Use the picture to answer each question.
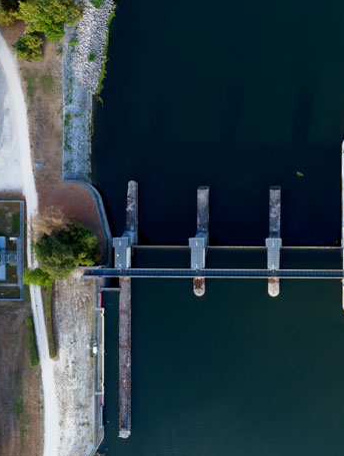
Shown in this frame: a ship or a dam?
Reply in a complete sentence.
There is a dam in the scene.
